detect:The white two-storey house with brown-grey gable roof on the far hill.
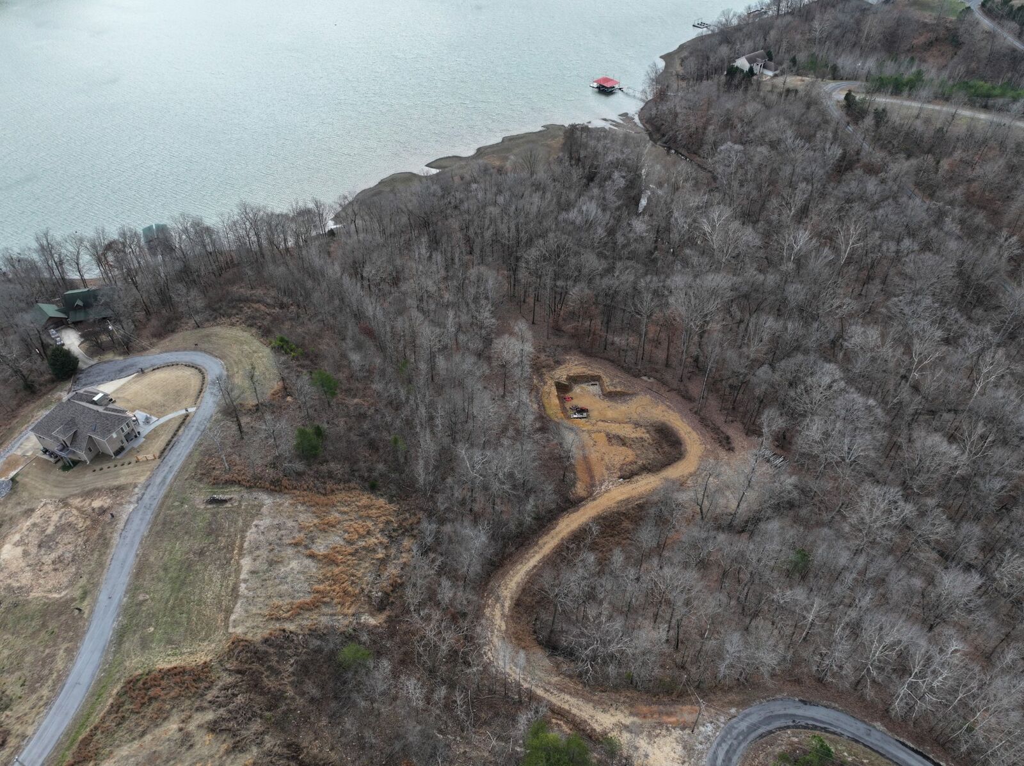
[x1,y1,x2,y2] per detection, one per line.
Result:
[730,49,784,75]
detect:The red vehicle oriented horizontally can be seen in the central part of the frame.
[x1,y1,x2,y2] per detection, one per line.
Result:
[567,401,593,414]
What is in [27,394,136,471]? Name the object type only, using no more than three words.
house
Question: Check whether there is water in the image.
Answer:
Yes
